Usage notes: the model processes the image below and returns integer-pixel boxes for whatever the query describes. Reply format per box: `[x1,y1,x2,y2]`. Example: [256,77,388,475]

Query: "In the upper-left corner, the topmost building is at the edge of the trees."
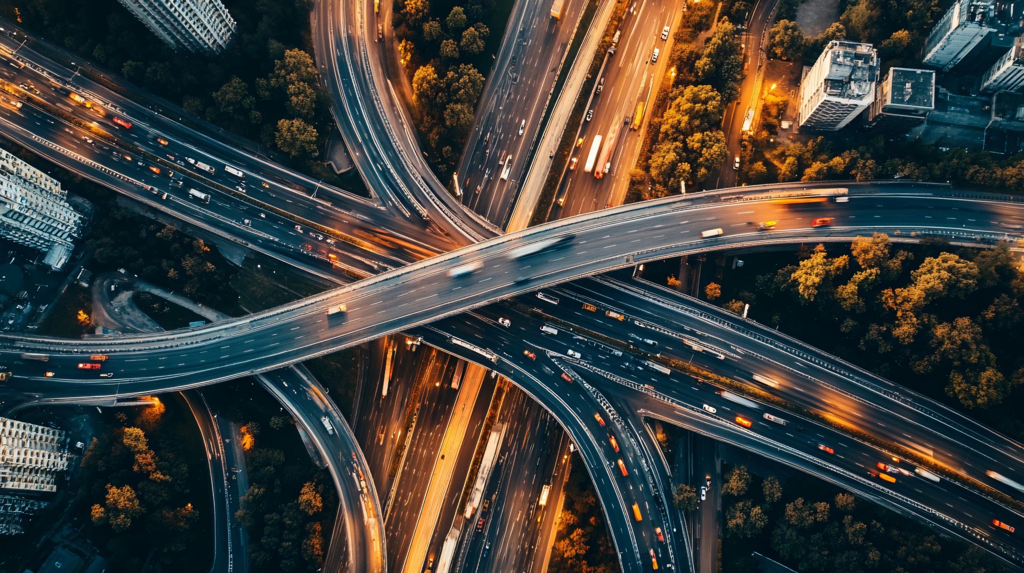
[113,0,237,53]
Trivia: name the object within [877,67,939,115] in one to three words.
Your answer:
building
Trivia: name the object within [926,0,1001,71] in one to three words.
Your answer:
building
